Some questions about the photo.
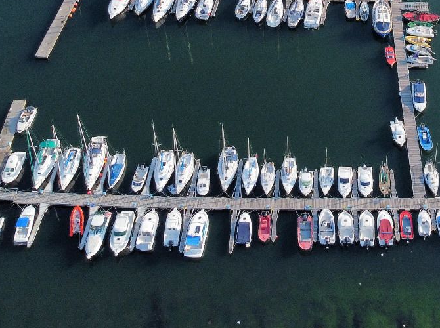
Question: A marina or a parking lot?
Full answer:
The area seen from above is a marina.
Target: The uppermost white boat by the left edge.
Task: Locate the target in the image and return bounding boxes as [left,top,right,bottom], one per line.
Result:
[16,105,38,134]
